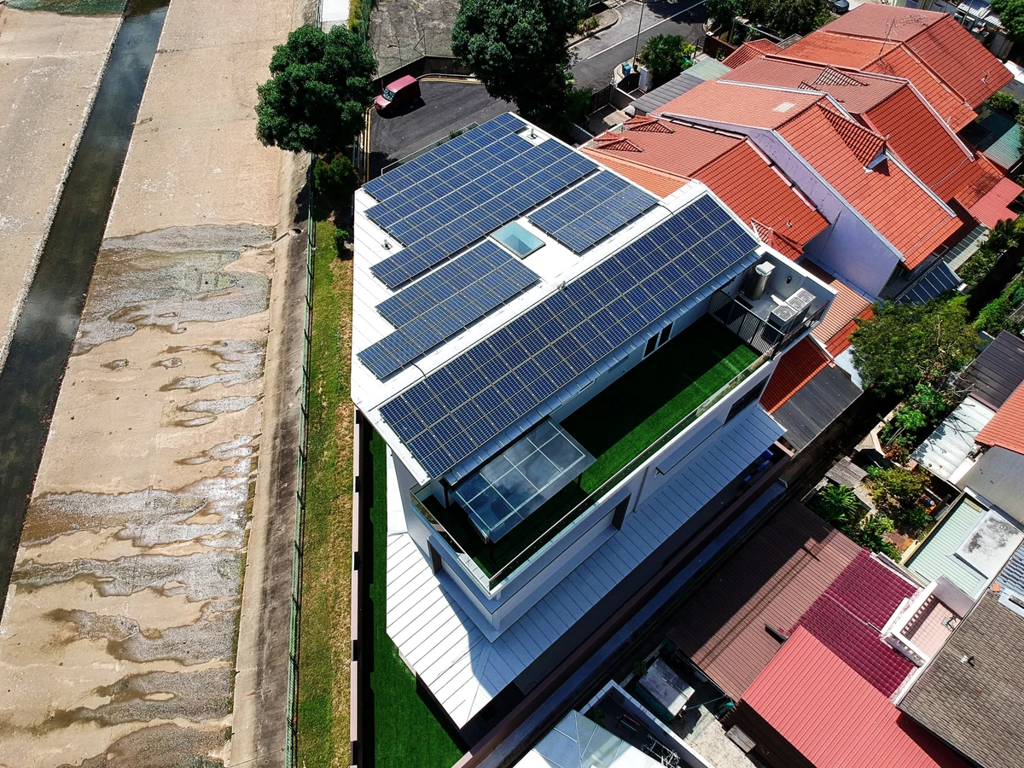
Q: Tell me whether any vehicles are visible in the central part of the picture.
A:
No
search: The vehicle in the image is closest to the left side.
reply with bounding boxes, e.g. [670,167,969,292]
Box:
[371,75,423,121]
